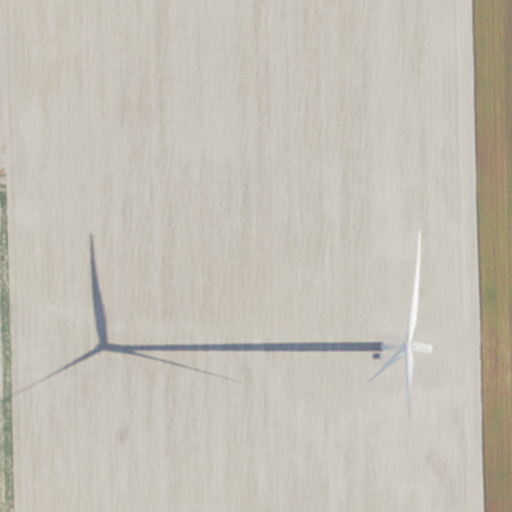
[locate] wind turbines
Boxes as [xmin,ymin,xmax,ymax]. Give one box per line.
[370,230,431,420]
